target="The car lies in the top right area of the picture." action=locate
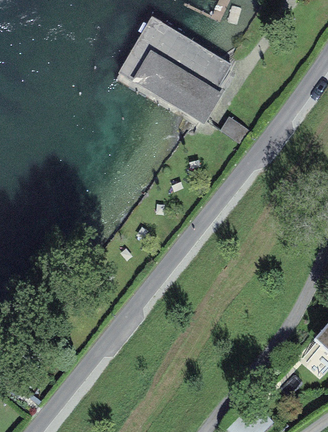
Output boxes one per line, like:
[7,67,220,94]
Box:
[310,76,328,98]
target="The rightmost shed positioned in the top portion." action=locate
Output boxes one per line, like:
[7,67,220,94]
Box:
[221,117,248,142]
